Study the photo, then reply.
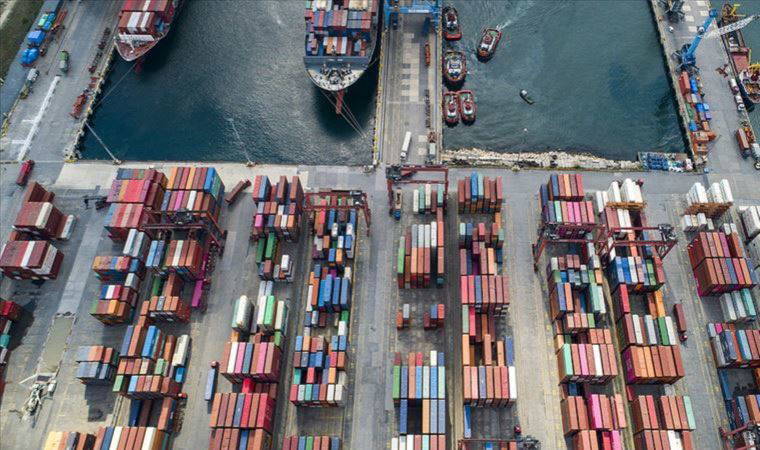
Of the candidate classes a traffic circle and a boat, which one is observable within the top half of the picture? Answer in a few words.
boat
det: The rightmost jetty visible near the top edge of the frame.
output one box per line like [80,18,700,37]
[646,0,760,169]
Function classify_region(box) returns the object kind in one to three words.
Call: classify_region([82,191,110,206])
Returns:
work vehicle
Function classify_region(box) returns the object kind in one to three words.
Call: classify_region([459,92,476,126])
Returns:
boat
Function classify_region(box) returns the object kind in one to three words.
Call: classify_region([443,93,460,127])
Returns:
boat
